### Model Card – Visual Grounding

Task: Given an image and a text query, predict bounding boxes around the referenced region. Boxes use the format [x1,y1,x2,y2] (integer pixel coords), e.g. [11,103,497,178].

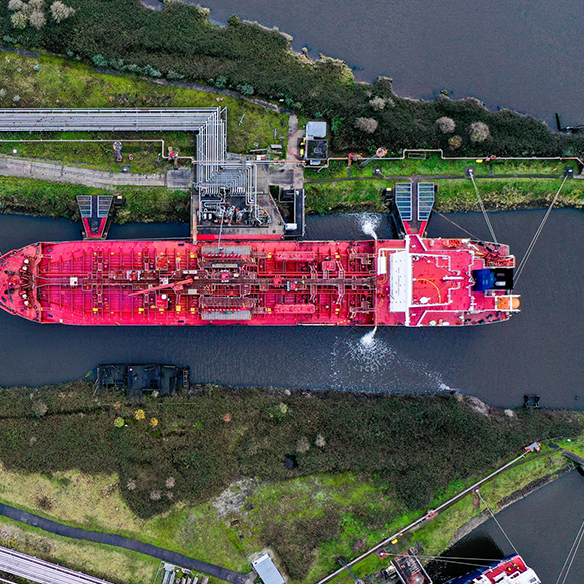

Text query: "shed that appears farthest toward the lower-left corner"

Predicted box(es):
[251,550,285,584]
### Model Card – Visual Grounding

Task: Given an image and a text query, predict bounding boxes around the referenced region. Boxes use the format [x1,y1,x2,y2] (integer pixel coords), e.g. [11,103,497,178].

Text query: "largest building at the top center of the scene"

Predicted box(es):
[301,122,328,167]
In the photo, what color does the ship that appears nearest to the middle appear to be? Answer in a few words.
red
